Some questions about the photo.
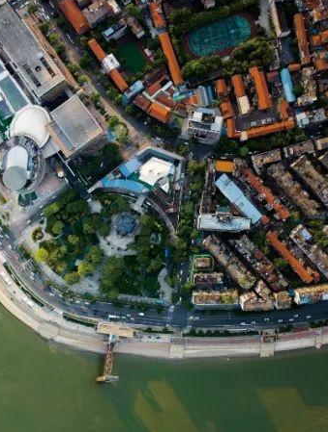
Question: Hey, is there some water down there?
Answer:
Yes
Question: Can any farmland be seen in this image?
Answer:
No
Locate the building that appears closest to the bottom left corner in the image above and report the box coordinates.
[96,323,134,336]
